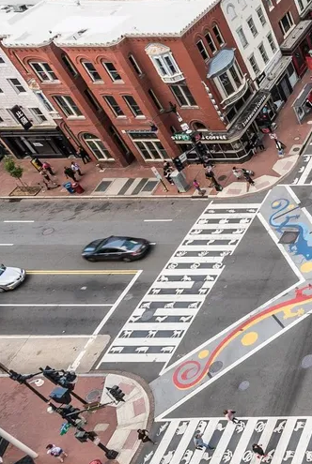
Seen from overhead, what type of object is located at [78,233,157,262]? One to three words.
car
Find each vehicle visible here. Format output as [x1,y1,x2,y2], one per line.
[0,262,32,293]
[78,233,157,262]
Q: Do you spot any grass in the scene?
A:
No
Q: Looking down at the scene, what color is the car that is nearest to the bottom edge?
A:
white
